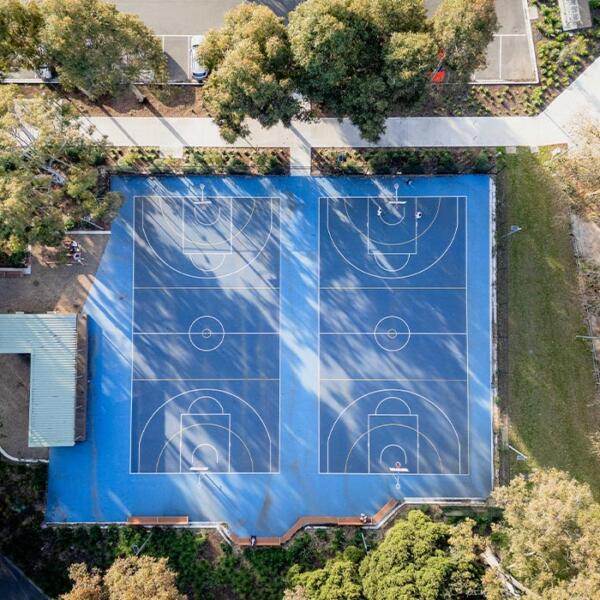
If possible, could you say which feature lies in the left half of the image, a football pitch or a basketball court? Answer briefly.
basketball court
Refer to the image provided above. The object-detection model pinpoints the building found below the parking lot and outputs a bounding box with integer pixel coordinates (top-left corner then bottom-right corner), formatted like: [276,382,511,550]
[0,309,89,447]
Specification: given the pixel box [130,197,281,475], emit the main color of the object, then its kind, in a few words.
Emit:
blue basketball court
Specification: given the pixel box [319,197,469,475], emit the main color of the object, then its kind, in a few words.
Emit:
blue basketball court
